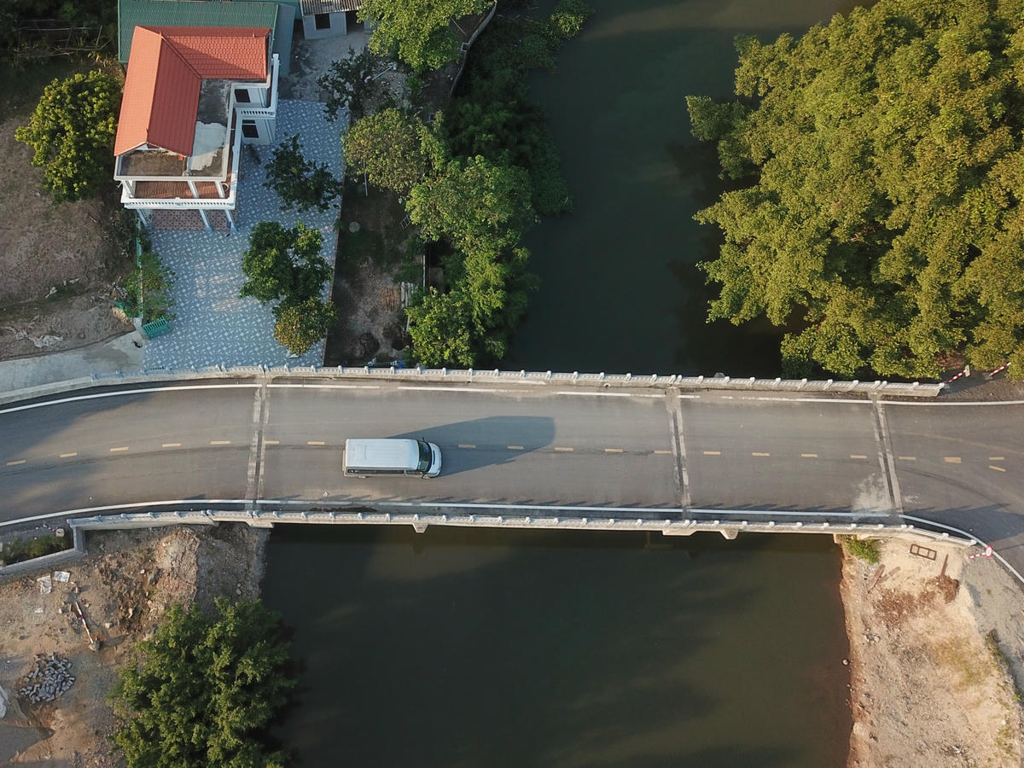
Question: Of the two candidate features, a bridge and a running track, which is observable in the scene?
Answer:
bridge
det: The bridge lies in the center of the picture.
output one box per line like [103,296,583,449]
[68,363,975,549]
